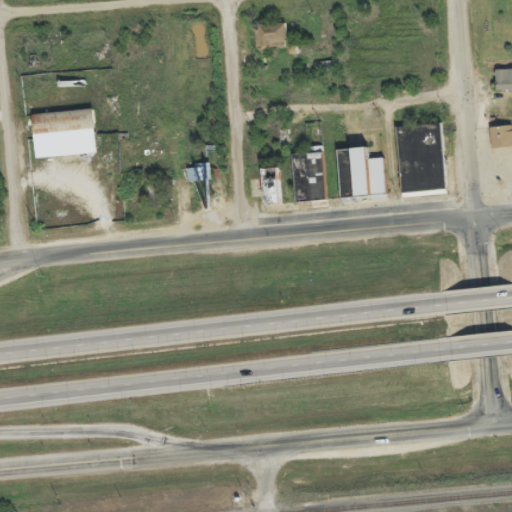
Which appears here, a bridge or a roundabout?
bridge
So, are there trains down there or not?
No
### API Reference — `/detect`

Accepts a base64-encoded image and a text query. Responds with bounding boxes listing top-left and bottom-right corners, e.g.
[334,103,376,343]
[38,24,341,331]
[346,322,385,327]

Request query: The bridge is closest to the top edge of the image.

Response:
[444,283,512,316]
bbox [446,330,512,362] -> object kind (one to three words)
bridge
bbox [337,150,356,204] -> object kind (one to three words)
building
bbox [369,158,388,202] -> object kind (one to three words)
building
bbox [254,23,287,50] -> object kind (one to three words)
house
